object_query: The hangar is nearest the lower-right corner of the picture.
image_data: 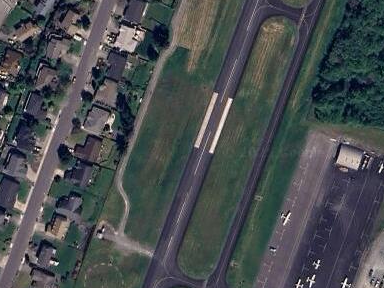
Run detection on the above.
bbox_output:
[336,144,364,171]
